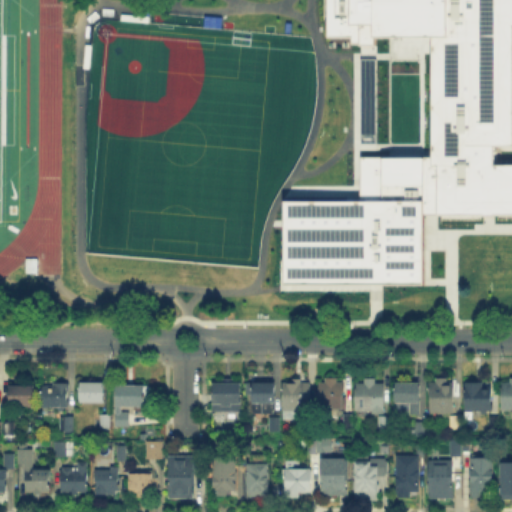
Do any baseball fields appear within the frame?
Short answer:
Yes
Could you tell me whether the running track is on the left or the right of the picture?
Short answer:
left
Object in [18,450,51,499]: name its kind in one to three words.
house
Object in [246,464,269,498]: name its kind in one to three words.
house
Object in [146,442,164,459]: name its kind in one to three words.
building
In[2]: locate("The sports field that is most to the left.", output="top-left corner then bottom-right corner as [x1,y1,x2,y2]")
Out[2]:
[0,0,39,249]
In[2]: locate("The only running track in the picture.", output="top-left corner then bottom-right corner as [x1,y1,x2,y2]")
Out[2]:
[0,0,66,276]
